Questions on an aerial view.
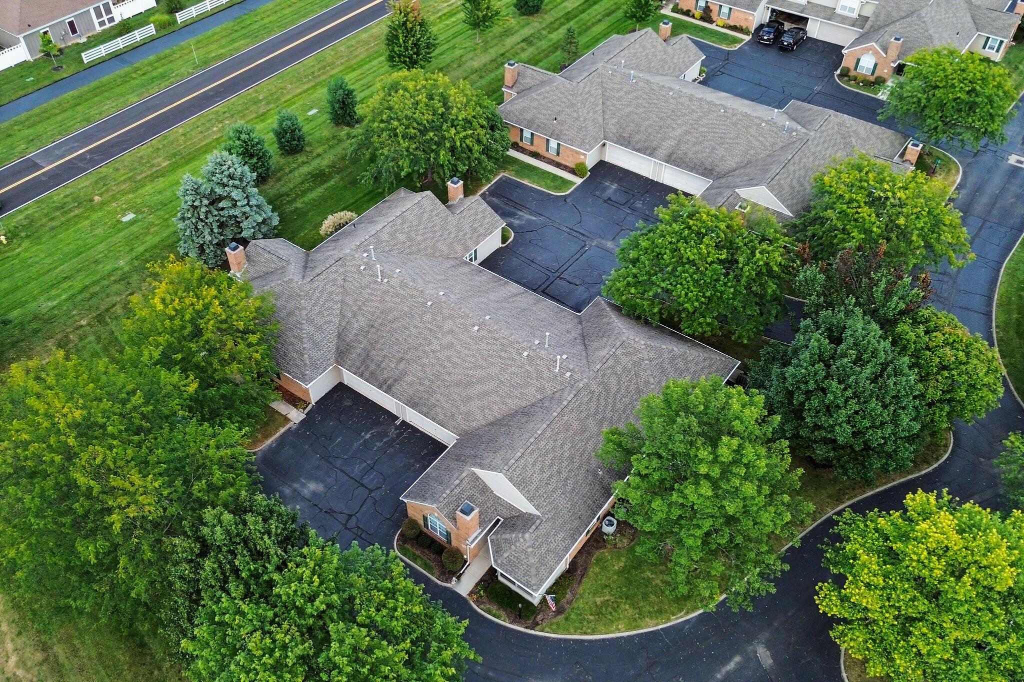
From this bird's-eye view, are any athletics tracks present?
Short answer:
No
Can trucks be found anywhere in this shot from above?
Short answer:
No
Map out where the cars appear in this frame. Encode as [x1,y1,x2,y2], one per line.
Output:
[760,21,787,41]
[779,26,808,47]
